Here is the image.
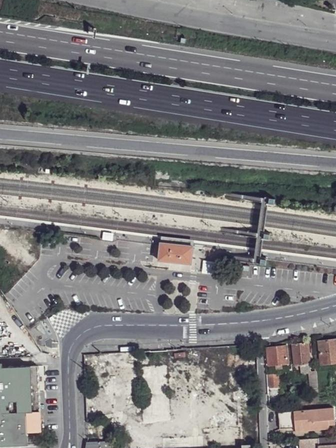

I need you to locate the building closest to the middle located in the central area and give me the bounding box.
[157,243,192,266]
